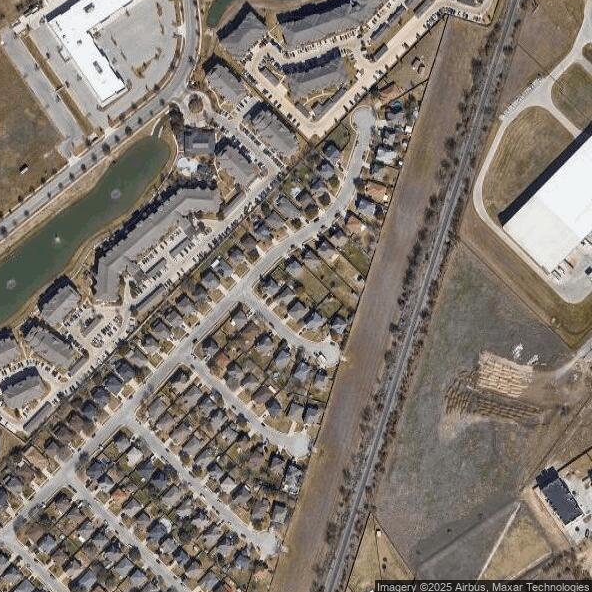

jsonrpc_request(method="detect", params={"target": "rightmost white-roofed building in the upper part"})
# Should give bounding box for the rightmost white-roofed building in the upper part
[503,142,592,274]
